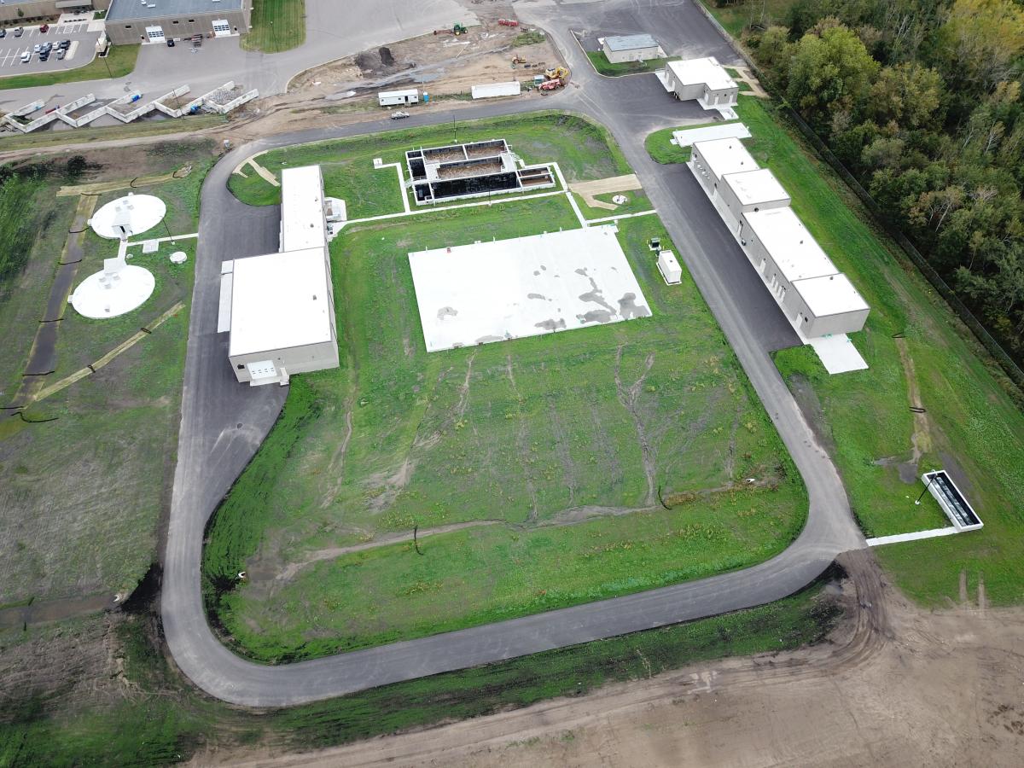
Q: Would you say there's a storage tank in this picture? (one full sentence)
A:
Yes, the photo shows a storage tank.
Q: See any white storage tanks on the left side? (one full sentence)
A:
Yes, a white storage tank shows up on the left side.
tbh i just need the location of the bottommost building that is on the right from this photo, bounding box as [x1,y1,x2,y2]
[690,137,870,337]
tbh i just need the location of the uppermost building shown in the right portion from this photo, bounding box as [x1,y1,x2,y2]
[603,32,660,63]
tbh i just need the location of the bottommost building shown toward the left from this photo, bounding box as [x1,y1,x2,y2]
[217,165,339,387]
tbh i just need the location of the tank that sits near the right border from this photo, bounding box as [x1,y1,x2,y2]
[921,469,982,534]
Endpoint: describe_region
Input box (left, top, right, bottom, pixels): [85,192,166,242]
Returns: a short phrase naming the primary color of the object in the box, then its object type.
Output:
white storage tank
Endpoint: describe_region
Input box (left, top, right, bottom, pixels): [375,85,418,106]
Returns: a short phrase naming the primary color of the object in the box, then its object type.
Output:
white trailer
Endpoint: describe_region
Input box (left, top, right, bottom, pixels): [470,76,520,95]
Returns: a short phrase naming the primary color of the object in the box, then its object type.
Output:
white trailer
